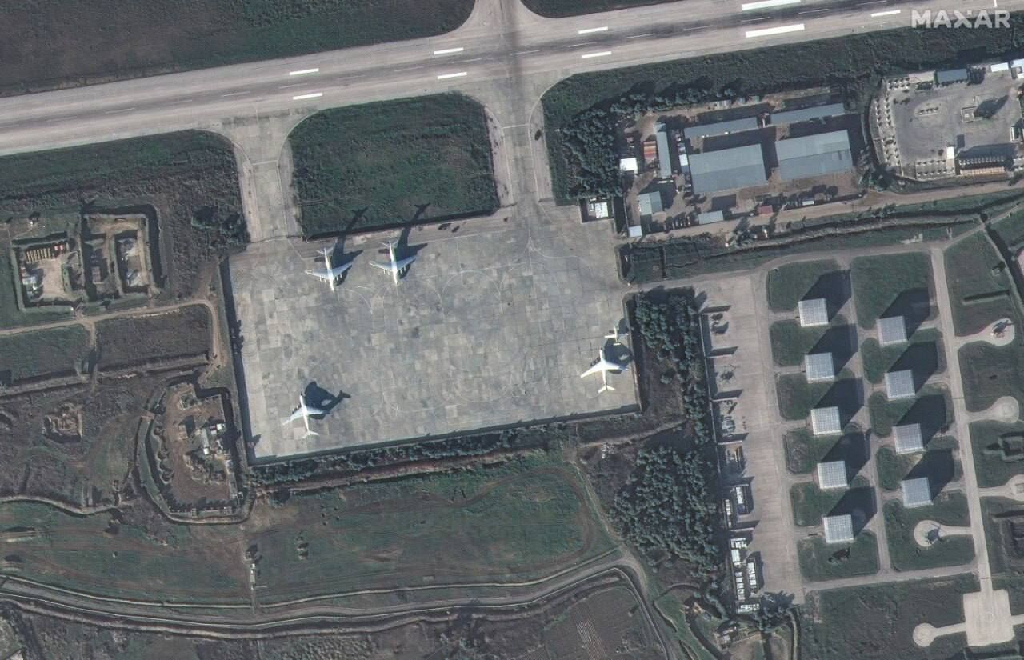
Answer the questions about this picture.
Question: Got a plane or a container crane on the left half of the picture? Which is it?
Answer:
plane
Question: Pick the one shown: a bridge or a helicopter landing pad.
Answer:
helicopter landing pad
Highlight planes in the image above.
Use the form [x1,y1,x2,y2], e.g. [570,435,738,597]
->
[282,395,330,436]
[304,246,352,292]
[581,349,629,391]
[604,327,628,343]
[368,241,416,286]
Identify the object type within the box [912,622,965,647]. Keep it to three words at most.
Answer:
helipad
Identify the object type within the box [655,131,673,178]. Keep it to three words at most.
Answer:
shed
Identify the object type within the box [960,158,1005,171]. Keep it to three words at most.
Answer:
building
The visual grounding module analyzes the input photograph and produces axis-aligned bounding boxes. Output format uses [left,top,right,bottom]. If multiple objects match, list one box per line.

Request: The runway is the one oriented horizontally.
[0,0,1024,156]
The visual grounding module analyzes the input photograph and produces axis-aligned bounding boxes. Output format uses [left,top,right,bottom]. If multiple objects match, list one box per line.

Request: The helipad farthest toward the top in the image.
[957,318,1016,345]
